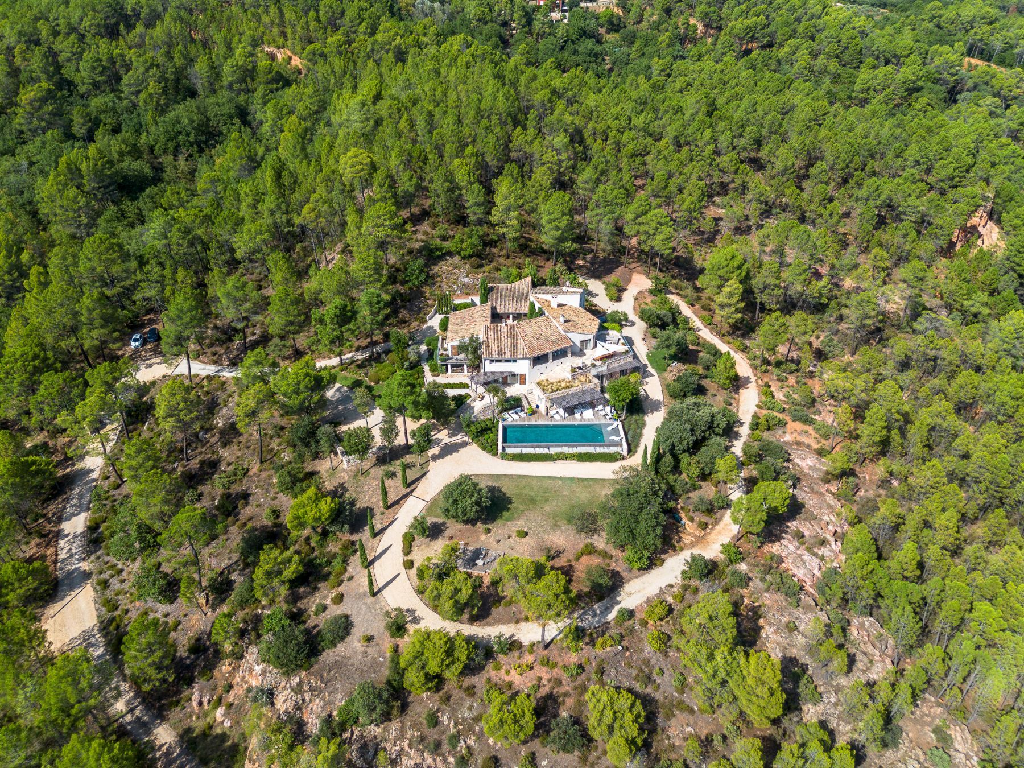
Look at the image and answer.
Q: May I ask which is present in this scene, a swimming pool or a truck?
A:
swimming pool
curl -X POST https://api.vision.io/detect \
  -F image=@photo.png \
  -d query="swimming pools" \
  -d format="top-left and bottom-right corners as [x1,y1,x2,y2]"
[499,422,630,460]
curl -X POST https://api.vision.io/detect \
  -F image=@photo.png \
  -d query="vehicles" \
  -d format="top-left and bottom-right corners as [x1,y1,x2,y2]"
[128,333,142,349]
[145,326,159,342]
